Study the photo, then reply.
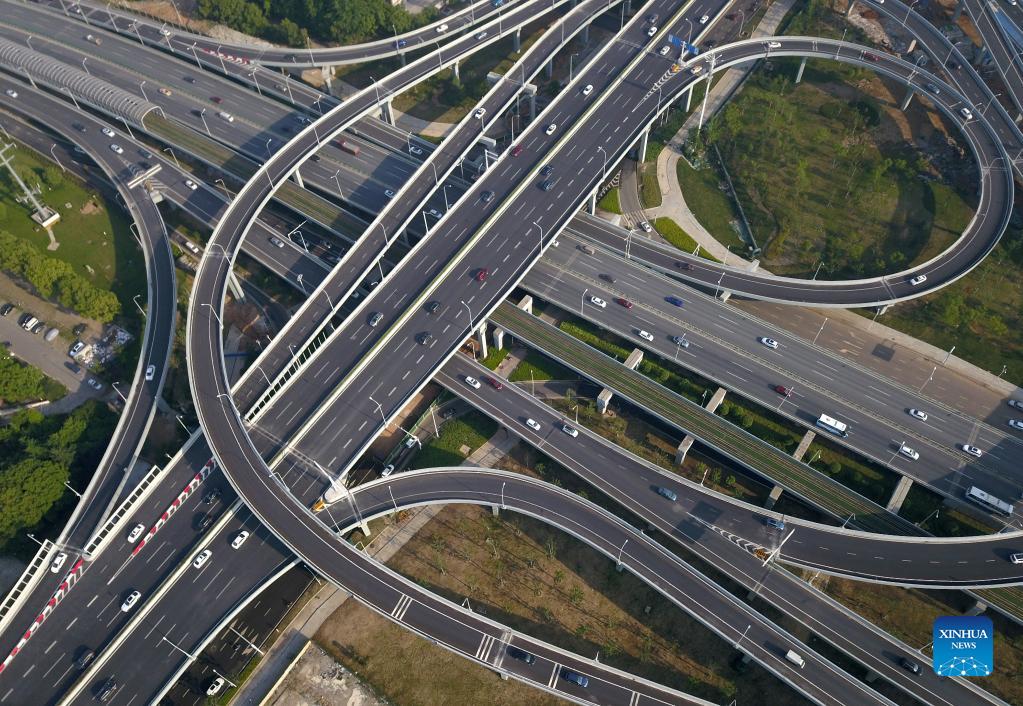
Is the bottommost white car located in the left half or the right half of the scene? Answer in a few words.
left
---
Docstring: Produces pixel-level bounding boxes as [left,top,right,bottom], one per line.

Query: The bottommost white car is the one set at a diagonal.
[206,676,226,698]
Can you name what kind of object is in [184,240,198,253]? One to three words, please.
vehicle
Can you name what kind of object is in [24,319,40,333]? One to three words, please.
vehicle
